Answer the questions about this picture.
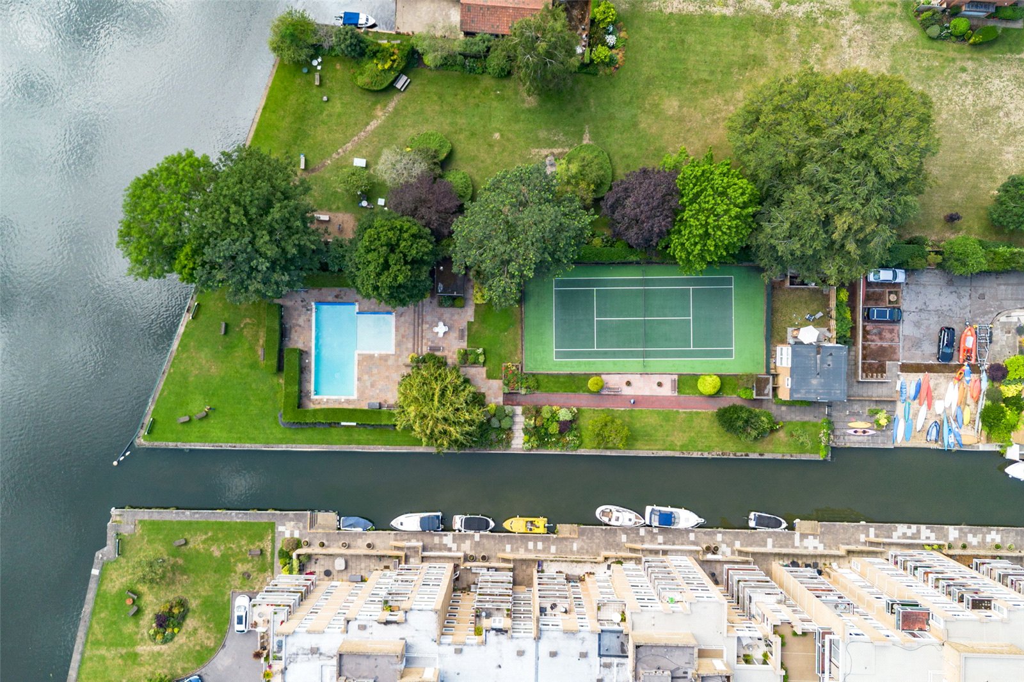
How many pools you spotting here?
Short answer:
one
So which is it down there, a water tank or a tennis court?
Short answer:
tennis court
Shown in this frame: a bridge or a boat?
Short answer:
boat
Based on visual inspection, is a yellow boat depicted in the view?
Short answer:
Yes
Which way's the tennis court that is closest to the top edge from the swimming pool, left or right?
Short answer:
to the right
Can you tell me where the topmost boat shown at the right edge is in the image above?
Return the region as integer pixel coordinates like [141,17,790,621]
[960,324,978,366]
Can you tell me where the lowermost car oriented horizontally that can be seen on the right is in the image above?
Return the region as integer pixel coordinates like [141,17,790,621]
[866,306,903,322]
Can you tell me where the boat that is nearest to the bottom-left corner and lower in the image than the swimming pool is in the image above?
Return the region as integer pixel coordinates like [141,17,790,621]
[339,514,373,531]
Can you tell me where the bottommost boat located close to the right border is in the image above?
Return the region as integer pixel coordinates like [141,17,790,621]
[1001,462,1024,482]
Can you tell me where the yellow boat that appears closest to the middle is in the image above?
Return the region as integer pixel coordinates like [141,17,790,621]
[503,517,551,534]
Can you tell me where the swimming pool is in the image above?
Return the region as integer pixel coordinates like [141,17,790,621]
[306,301,396,401]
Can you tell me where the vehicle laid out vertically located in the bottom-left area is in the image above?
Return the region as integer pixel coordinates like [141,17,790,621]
[230,596,248,634]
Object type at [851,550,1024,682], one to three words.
building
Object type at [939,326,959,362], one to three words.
car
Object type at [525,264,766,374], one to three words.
tennis court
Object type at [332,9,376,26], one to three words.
boat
